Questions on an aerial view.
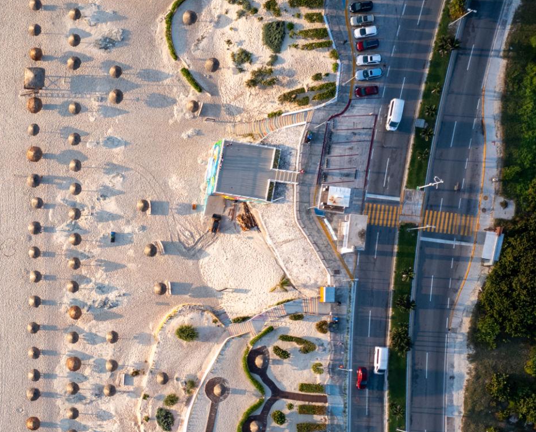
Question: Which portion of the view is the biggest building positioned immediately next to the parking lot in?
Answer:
center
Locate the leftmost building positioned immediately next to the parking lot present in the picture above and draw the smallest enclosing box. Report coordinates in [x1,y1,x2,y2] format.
[206,139,298,203]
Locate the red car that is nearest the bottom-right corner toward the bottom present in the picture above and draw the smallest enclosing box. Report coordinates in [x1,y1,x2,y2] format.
[355,367,369,390]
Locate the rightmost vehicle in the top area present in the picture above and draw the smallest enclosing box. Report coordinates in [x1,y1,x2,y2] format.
[383,97,405,133]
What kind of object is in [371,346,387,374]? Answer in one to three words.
vehicle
